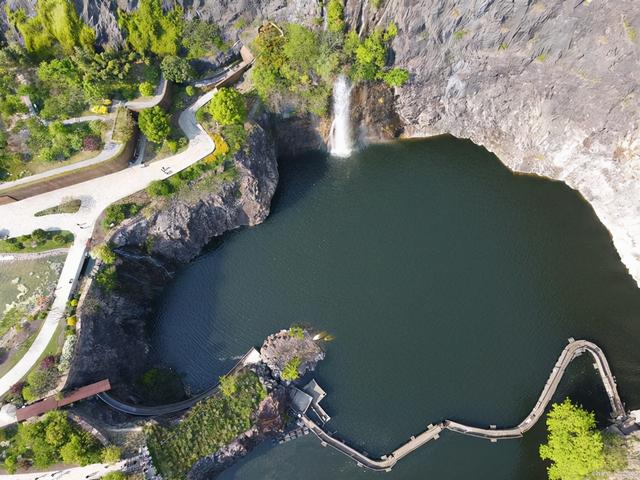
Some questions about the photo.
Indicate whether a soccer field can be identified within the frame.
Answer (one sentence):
No, there appears to be no soccer field in this shot.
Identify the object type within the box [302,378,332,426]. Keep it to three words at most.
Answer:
pier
